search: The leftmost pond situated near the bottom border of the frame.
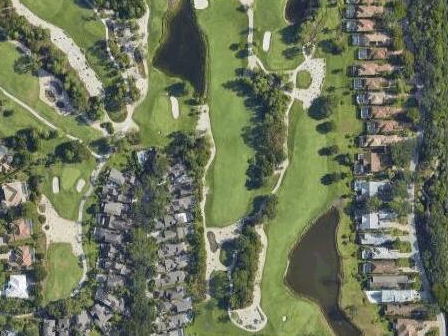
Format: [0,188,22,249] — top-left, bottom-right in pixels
[284,206,362,336]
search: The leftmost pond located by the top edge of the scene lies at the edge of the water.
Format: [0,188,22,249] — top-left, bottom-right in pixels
[153,0,206,94]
